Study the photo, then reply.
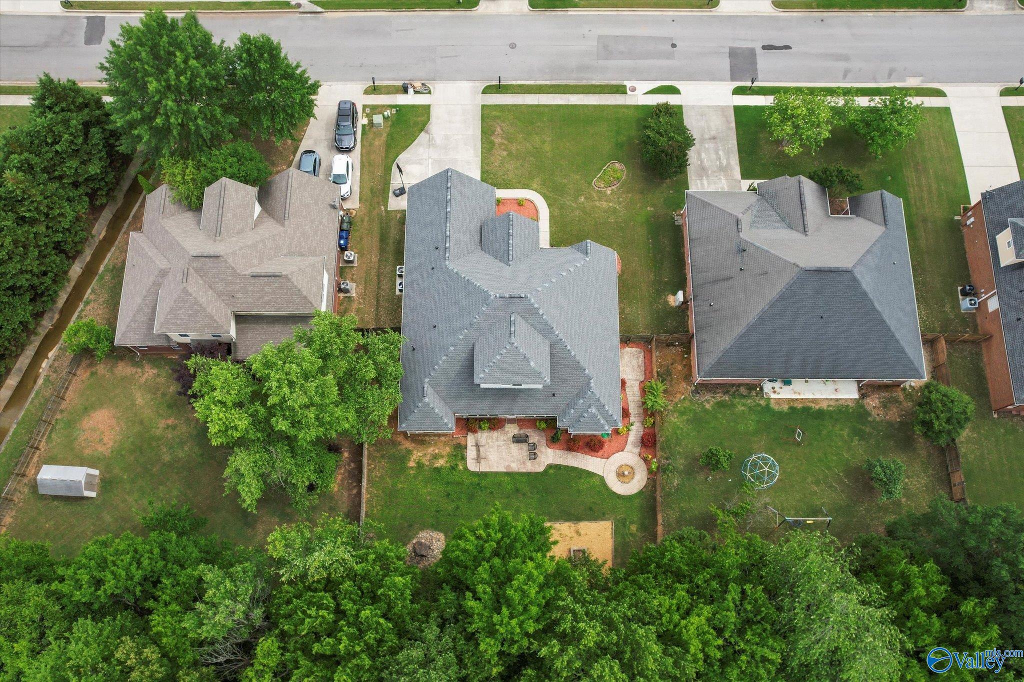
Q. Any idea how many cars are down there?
3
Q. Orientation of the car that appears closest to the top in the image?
up and down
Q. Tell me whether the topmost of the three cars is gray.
Yes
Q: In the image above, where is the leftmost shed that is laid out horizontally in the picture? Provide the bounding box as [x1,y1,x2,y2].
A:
[36,464,102,497]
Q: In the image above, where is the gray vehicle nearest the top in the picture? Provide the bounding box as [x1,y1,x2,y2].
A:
[333,105,358,152]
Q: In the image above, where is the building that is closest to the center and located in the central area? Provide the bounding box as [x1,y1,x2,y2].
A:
[397,168,622,440]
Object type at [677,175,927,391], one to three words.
house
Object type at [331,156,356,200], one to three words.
car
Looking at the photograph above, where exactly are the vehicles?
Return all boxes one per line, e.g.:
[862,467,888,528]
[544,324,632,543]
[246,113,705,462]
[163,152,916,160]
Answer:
[301,148,324,178]
[331,156,356,200]
[333,105,358,152]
